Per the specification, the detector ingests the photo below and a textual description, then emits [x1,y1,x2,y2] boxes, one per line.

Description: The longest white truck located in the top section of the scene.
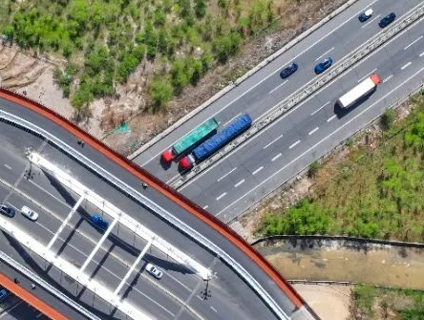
[335,69,385,107]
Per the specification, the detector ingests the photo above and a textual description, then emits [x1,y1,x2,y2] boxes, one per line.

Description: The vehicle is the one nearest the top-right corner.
[379,10,397,26]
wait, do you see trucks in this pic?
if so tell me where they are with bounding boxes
[181,115,252,168]
[335,69,385,107]
[160,117,219,162]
